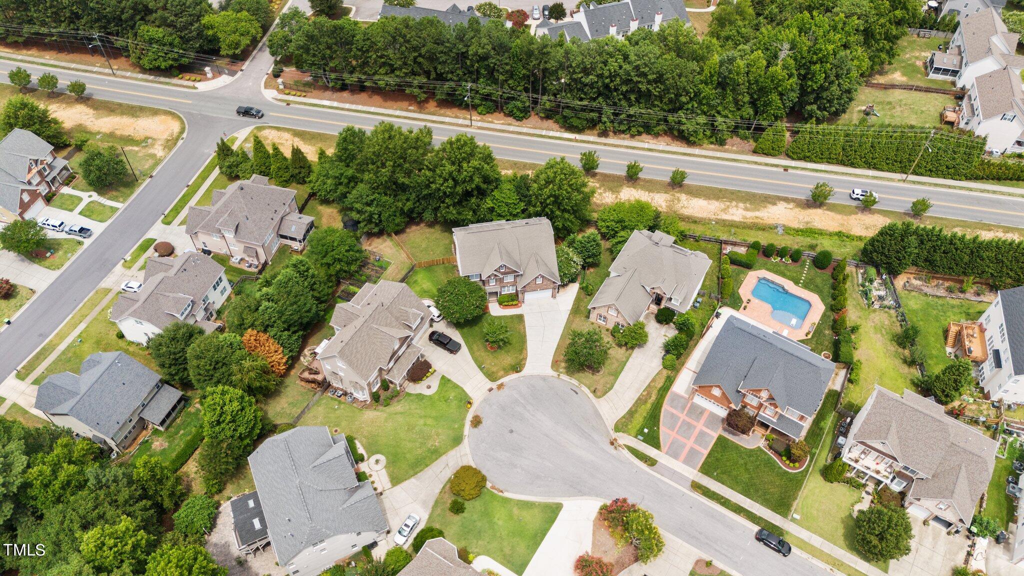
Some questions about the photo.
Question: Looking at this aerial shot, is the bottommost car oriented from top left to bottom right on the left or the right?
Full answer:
You can find the bottommost car oriented from top left to bottom right on the right side of the picture.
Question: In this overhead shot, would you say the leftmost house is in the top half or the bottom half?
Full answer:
It is in the top half that the leftmost house appears.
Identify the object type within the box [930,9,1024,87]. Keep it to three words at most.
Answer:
house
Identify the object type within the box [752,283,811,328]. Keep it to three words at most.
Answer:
swimming pool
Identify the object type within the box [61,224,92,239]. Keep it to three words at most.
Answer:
vehicle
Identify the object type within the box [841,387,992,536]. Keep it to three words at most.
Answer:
house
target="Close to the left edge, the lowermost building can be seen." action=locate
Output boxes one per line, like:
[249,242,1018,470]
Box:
[31,350,187,453]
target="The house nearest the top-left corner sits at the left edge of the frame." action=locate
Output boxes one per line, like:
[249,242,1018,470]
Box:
[0,138,75,226]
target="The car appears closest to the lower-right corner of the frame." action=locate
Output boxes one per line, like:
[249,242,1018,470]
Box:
[755,529,794,560]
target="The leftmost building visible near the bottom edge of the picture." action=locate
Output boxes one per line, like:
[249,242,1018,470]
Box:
[231,425,389,574]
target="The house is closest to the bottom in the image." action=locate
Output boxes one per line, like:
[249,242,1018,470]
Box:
[393,537,487,576]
